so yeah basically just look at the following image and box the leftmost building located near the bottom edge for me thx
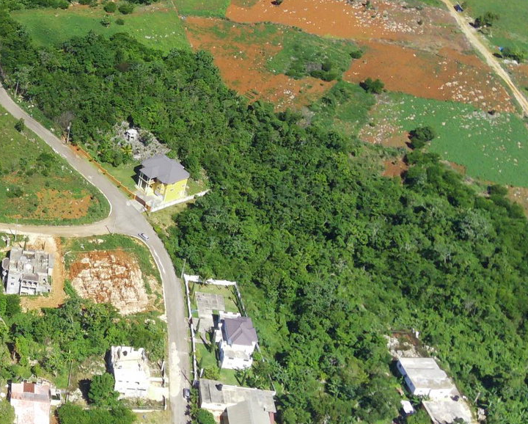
[10,382,50,424]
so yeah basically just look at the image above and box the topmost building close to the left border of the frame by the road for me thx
[2,249,54,298]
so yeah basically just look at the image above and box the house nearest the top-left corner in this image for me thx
[137,156,190,196]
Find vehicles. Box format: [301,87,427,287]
[183,384,191,400]
[455,6,464,11]
[139,231,152,241]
